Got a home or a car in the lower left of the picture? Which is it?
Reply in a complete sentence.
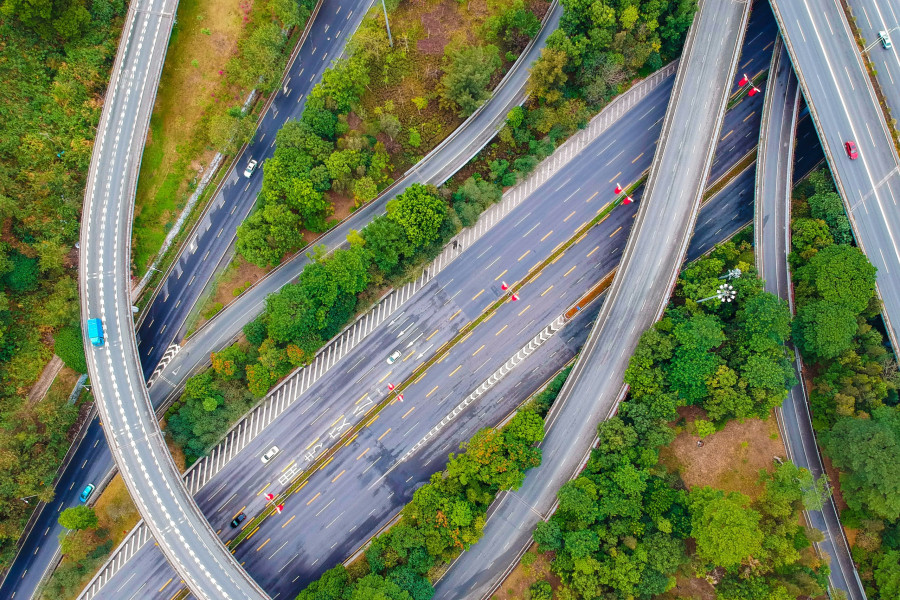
Looking in the lower left of the picture, you will find a car.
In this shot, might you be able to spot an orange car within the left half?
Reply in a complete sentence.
No, no orange car can be made out within the left half.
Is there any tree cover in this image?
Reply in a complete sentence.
Yes, there is tree cover in the image.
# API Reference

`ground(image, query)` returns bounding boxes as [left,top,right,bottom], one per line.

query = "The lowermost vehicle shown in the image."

[229,510,247,529]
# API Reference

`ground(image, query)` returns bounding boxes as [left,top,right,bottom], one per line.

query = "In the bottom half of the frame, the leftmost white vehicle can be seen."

[261,445,279,463]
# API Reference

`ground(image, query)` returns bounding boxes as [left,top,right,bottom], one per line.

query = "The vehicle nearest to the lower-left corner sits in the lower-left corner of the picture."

[79,482,95,503]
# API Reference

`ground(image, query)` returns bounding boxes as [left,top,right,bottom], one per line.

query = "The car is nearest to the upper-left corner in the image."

[243,159,258,177]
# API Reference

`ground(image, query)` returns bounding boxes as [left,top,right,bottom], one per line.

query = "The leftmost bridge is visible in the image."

[80,0,278,600]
